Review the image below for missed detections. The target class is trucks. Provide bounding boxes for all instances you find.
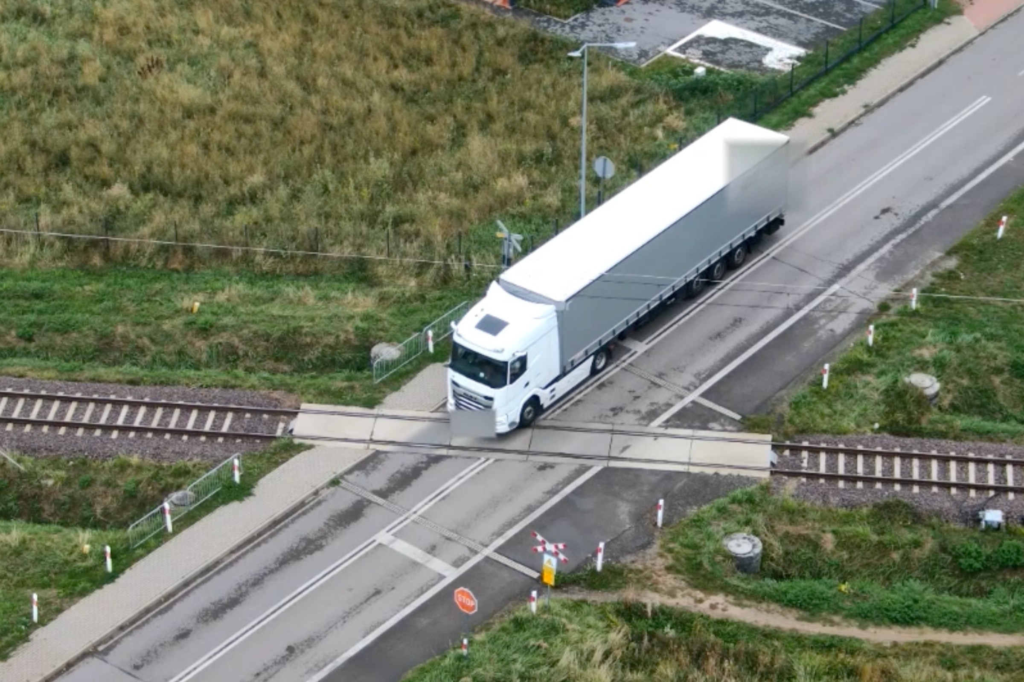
[442,117,790,435]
